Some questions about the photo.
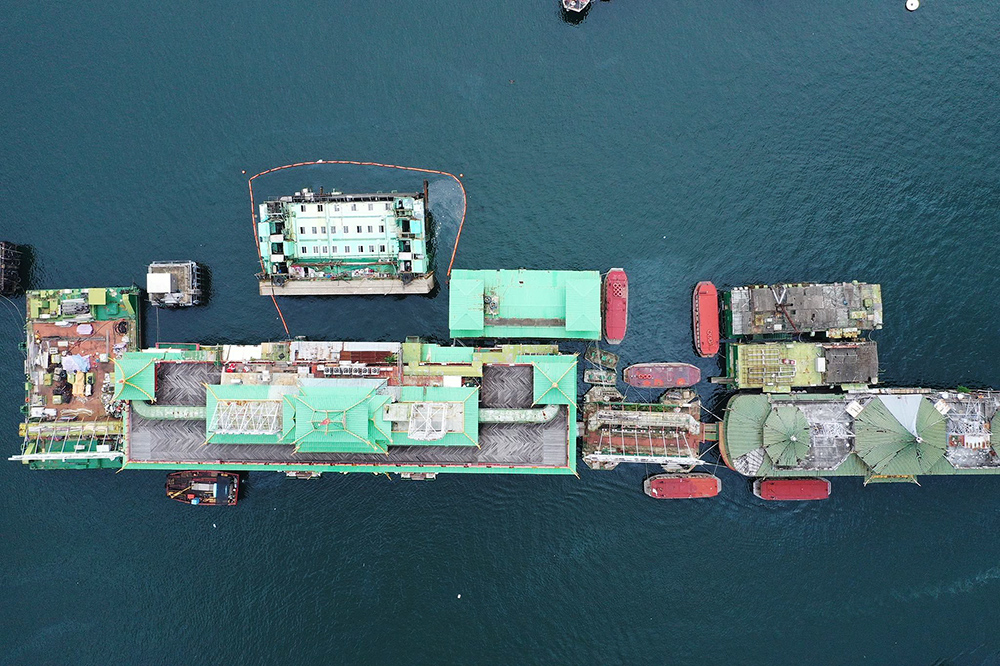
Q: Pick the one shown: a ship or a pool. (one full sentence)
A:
The image shows a ship.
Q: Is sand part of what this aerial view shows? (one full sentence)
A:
No, no sand is visible.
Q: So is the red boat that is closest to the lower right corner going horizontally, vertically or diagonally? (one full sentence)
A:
The red boat that is closest to the lower right corner has been laid out horizontally relative to the frame.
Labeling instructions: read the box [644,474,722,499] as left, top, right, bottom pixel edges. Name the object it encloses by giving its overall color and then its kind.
red boat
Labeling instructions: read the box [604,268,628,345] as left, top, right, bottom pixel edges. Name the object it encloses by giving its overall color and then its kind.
red boat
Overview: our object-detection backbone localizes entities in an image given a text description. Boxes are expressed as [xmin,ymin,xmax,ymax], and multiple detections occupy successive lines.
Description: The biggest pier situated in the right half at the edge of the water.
[582,386,705,472]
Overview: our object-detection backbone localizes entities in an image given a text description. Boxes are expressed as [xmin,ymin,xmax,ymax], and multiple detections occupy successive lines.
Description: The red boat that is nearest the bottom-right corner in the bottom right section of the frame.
[752,476,832,501]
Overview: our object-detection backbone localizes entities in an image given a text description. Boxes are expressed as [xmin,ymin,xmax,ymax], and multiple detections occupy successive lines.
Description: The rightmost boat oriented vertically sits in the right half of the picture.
[692,280,720,358]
